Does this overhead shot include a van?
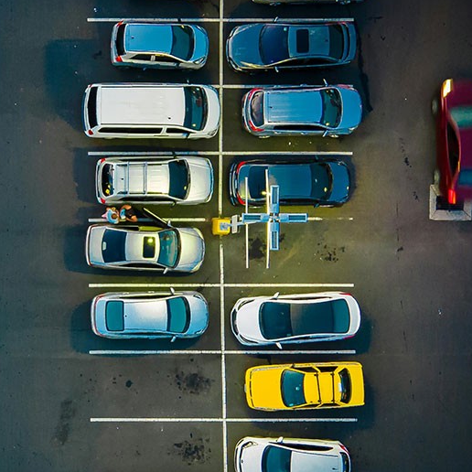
Yes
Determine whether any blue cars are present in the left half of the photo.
Yes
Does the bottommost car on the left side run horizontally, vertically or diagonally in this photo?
horizontally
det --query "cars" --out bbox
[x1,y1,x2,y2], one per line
[248,359,364,416]
[92,290,206,345]
[233,291,360,351]
[232,154,349,211]
[237,436,350,472]
[97,151,212,208]
[228,16,358,72]
[433,79,472,202]
[113,18,206,70]
[245,78,362,138]
[87,215,203,277]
